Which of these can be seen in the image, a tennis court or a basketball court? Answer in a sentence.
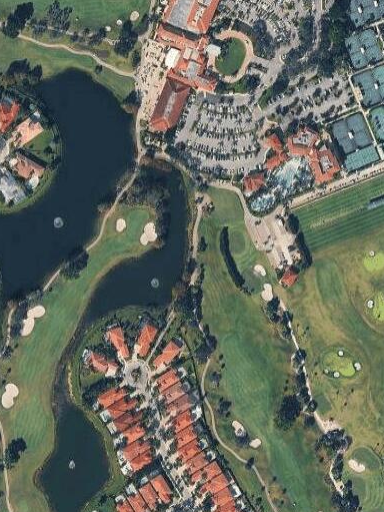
The one in the frame is a tennis court.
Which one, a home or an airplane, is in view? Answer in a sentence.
I can see a home in this picture.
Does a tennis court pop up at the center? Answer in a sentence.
No, there's no tennis court to be seen at the center.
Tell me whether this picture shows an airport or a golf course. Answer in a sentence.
What you see here is a golf course.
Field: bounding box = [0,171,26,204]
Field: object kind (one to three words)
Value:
house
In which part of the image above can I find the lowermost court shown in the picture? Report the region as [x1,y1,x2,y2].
[343,147,380,171]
